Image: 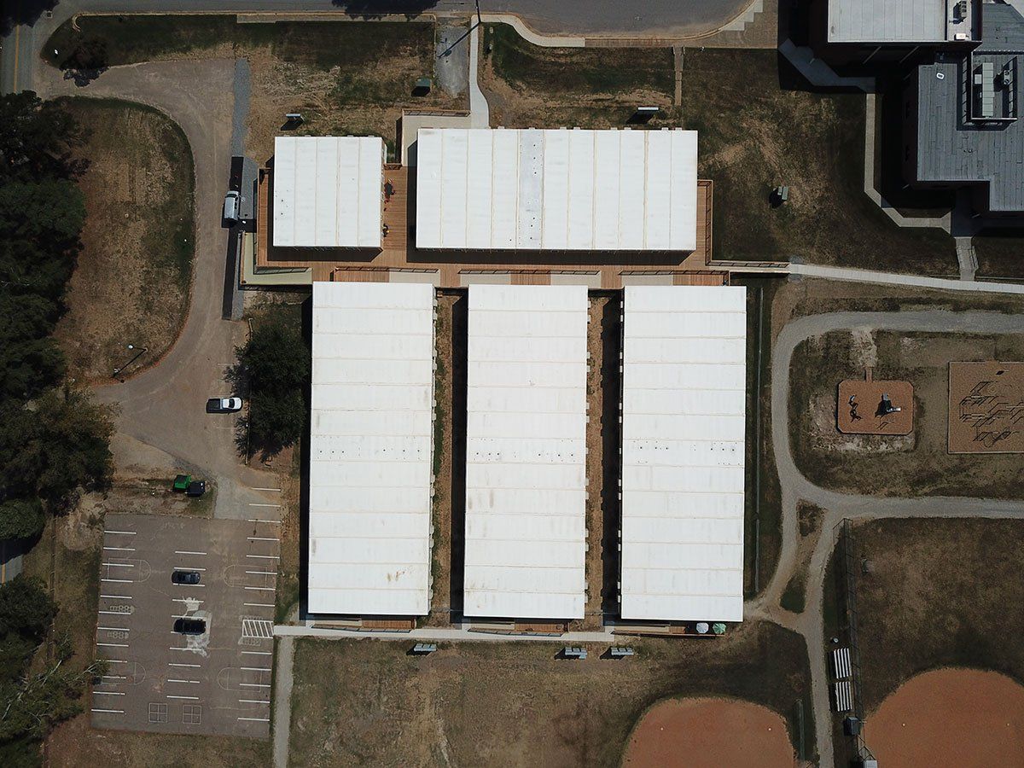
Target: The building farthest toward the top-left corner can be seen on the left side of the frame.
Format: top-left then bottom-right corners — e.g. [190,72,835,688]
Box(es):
[273,133,385,252]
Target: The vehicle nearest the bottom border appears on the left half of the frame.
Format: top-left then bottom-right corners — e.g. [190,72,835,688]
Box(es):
[174,617,206,634]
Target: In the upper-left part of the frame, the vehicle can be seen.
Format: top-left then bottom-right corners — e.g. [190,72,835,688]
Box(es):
[222,190,239,222]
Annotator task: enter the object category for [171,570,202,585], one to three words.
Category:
car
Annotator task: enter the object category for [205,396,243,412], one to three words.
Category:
vehicle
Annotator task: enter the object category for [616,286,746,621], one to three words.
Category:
building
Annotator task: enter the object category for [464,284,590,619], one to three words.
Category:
building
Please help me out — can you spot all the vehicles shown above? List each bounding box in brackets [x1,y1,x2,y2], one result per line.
[171,570,202,585]
[222,190,239,222]
[174,617,206,634]
[205,396,243,412]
